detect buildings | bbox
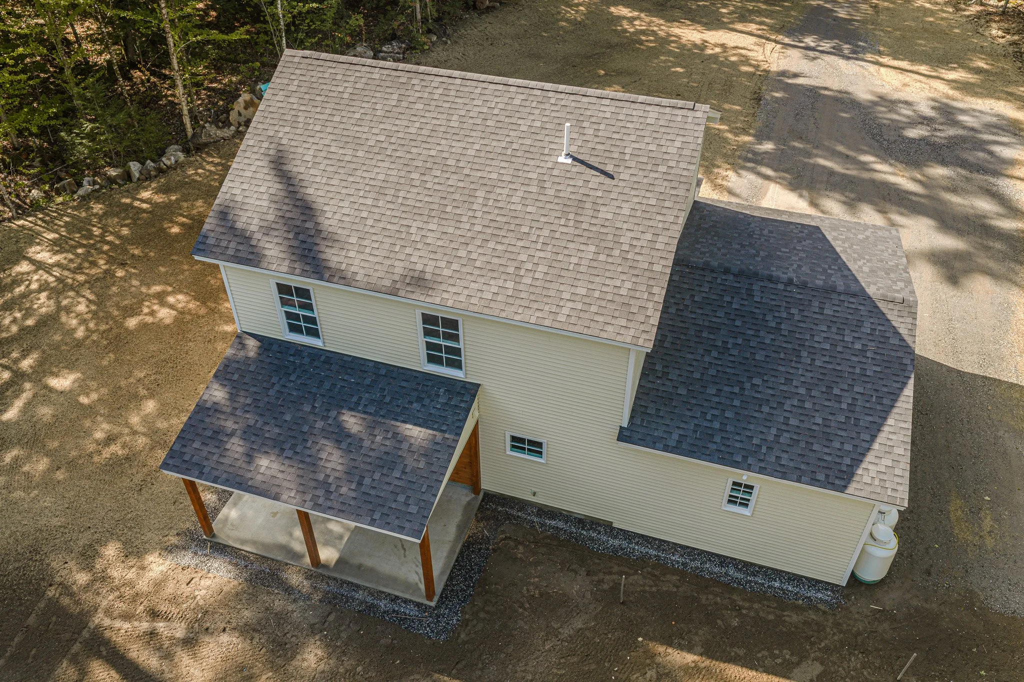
[159,48,918,609]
